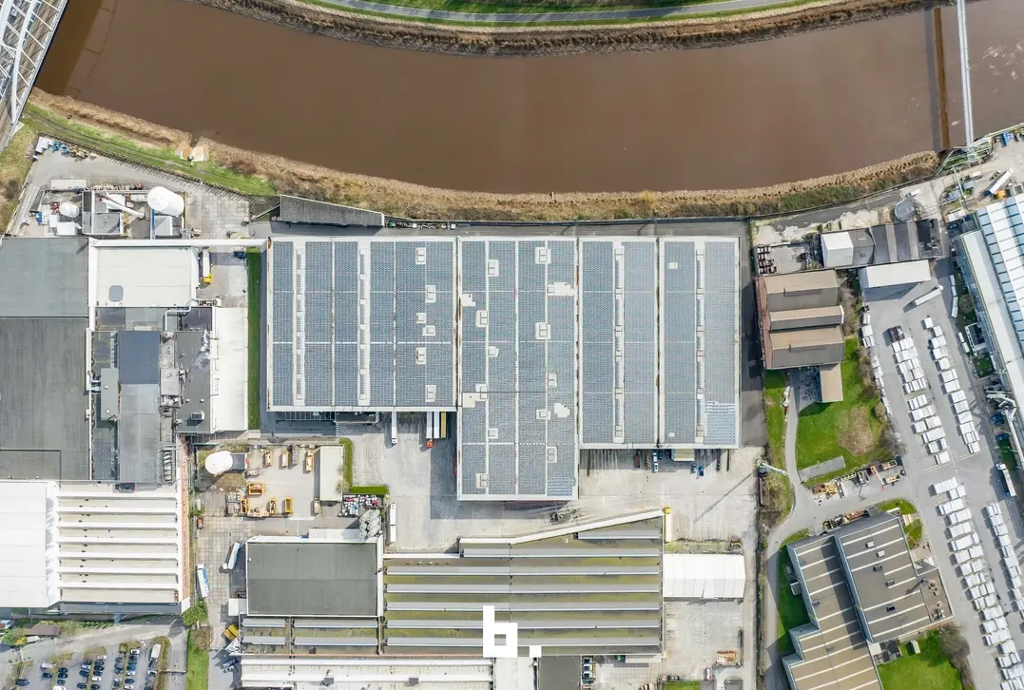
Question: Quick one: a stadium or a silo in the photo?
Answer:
silo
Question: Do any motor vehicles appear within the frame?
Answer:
Yes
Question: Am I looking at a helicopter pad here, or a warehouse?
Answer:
warehouse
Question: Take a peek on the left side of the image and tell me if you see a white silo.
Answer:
Yes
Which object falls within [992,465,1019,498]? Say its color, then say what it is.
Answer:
white truck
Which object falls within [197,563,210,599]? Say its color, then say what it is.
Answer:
white vehicle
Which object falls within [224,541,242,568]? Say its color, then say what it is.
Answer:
white vehicle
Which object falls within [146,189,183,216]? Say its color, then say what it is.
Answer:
white silo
